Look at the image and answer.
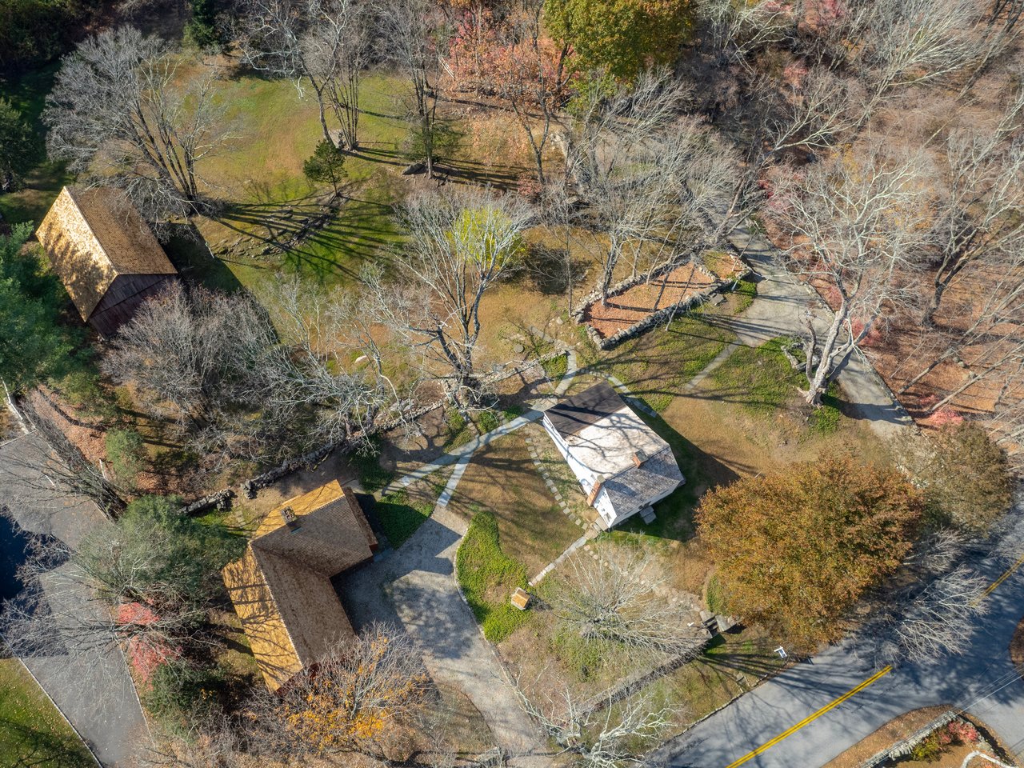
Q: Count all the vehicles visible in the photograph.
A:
zero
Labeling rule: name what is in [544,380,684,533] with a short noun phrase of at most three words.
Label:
house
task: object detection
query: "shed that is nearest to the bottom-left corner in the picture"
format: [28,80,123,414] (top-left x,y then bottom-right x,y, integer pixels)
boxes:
[224,480,381,692]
